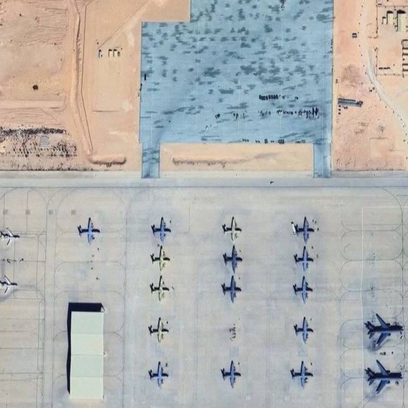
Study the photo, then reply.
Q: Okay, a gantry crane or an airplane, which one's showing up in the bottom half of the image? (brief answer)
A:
airplane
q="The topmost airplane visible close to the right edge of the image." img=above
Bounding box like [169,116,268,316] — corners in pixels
[365,313,403,345]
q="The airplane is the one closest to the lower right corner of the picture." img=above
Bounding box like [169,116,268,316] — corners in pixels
[366,359,402,392]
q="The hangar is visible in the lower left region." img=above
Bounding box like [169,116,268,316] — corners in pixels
[70,310,105,400]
